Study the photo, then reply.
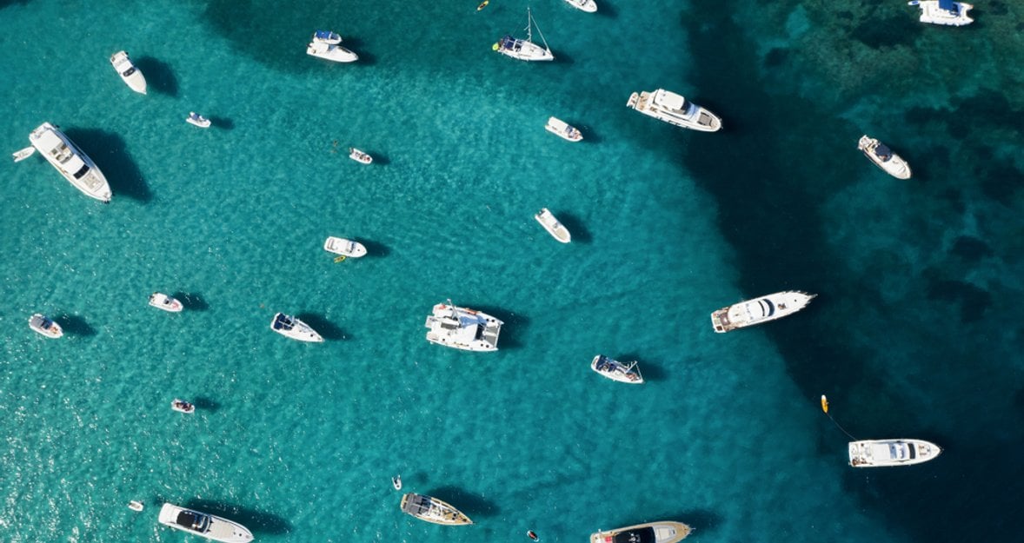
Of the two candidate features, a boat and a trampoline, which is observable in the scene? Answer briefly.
boat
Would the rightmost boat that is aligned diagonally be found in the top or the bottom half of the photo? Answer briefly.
top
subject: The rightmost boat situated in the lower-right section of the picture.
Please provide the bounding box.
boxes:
[845,438,945,468]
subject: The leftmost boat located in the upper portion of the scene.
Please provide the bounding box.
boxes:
[13,146,35,162]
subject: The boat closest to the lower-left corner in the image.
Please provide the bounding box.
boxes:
[128,500,144,512]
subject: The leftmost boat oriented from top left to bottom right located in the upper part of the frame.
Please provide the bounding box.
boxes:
[31,123,114,200]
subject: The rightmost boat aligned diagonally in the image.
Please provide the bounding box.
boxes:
[857,138,912,180]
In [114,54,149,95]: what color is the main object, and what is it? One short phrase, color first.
white boat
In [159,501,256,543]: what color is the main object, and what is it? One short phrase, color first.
white boat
